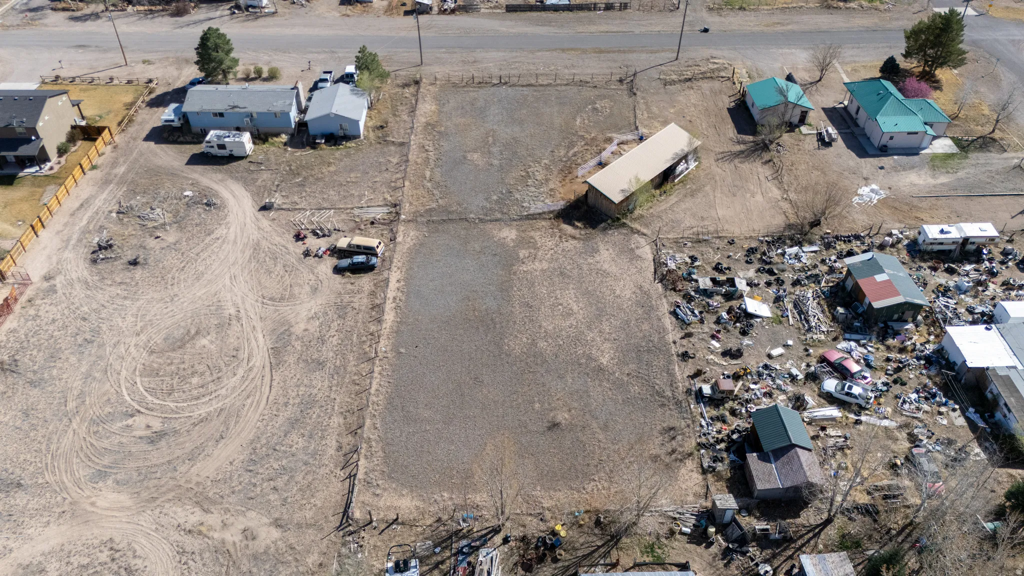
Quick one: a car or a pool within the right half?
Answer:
car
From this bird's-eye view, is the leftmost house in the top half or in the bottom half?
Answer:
top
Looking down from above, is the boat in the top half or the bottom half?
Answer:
bottom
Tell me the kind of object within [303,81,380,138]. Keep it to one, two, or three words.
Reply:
building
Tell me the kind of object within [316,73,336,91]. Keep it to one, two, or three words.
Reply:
vehicle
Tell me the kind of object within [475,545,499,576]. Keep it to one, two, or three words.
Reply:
trailer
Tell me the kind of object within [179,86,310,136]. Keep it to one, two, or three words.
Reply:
house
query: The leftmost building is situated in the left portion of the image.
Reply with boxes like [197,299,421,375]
[0,91,94,177]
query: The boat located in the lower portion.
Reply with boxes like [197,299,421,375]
[384,538,419,576]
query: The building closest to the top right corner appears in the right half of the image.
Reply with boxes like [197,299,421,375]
[844,79,952,149]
